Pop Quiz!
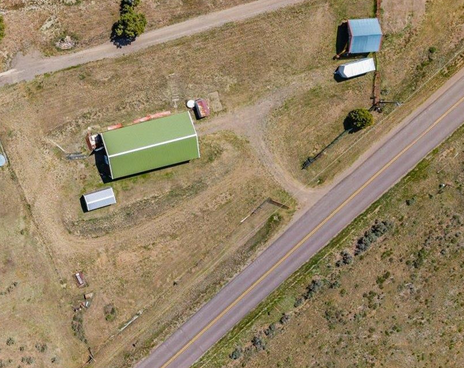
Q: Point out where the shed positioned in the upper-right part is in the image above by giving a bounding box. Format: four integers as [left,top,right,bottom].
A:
[341,18,383,53]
